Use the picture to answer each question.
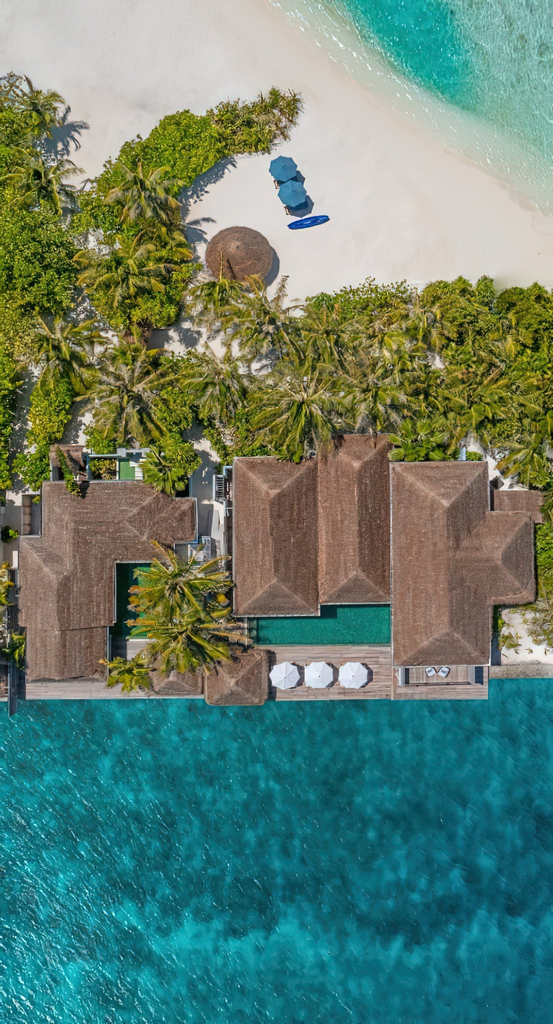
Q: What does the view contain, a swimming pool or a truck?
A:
swimming pool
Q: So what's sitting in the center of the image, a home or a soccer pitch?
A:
home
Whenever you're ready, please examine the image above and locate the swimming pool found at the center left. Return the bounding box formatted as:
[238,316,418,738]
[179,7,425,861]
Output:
[111,558,176,638]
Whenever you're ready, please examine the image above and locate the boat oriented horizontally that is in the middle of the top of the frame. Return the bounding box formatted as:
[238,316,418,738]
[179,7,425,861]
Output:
[288,215,330,229]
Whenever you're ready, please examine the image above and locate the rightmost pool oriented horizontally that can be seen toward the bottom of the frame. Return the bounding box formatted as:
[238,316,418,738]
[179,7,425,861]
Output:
[248,604,391,646]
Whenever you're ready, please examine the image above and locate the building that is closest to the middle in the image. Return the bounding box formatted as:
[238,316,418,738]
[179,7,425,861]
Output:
[232,435,391,617]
